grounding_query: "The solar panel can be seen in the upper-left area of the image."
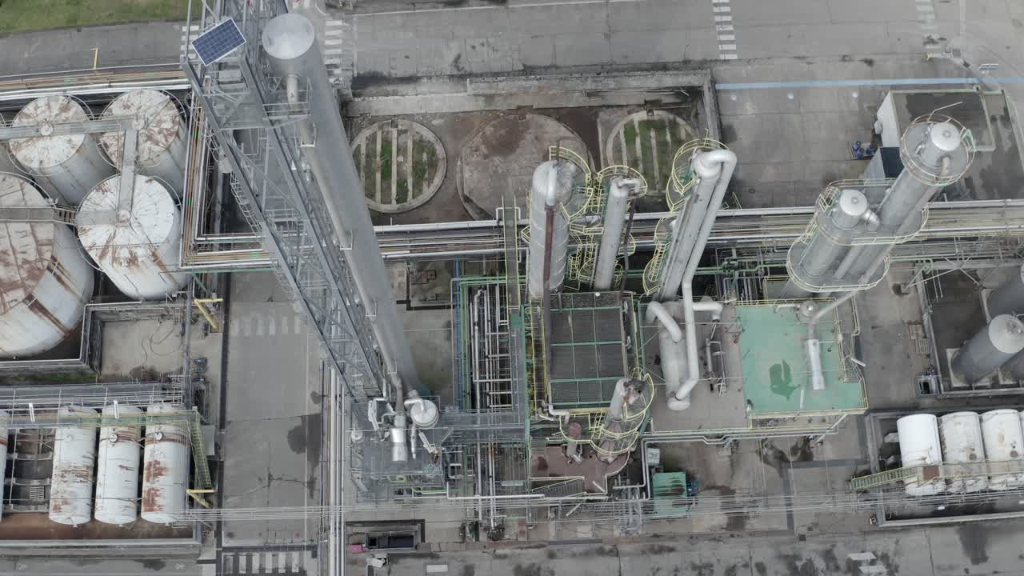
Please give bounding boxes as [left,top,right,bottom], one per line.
[189,17,250,67]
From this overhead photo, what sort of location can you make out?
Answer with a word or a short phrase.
industrial area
